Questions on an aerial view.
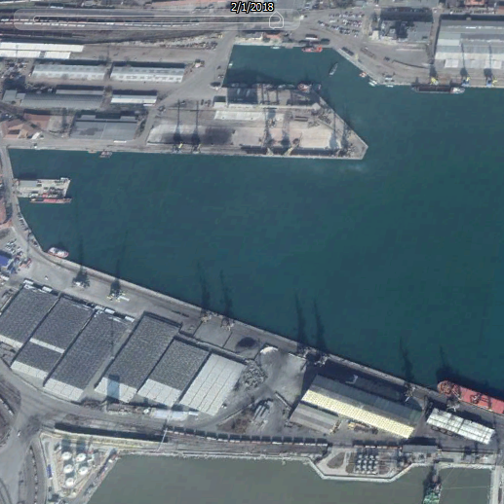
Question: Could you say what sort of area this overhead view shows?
port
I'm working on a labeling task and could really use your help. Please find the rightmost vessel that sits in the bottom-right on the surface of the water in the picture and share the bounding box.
[438,381,504,414]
